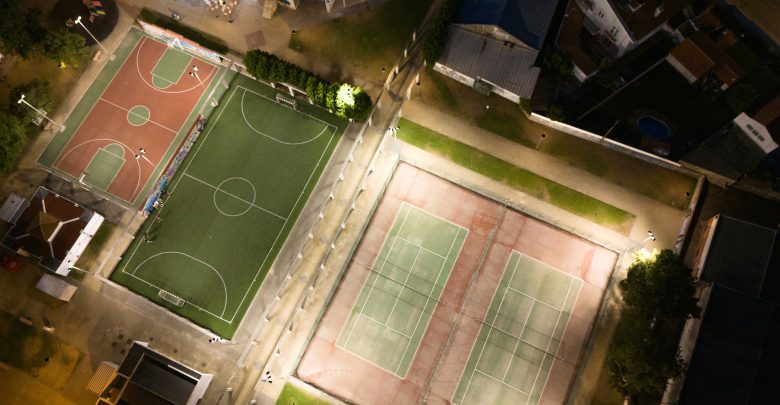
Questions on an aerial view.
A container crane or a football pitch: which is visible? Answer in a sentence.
The image shows a football pitch.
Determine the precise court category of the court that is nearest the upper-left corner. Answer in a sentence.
Looking closely, the court that is nearest the upper-left corner is a basketball court.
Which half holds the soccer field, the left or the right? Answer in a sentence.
The soccer field is on the left side of the image.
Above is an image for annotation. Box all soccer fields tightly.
[112,80,348,339]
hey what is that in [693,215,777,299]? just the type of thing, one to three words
building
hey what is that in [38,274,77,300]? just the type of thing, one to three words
shed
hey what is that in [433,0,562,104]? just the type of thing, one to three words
building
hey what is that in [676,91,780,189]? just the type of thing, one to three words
house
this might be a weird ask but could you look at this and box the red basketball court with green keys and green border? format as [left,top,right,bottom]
[33,27,225,217]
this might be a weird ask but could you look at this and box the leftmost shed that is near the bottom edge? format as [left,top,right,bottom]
[86,360,121,395]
